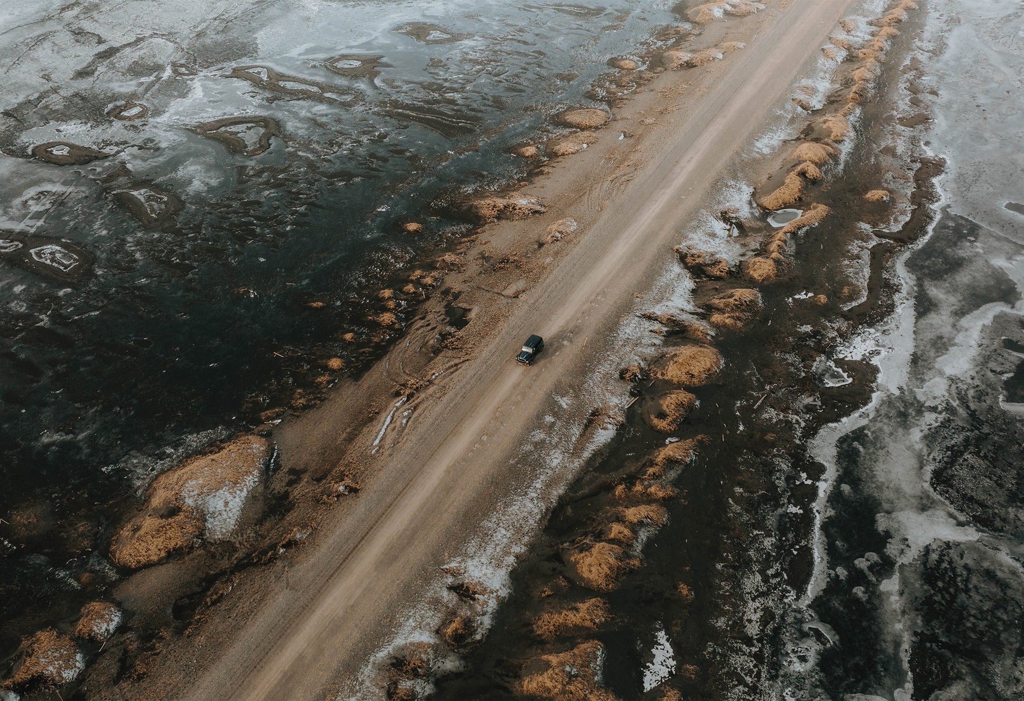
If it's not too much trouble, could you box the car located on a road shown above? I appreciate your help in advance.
[516,337,544,367]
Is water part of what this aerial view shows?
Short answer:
Yes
